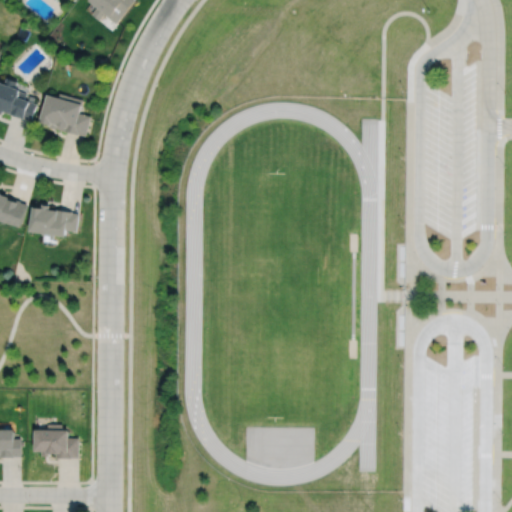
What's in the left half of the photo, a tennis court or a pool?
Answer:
pool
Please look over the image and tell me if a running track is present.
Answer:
Yes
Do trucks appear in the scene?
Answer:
No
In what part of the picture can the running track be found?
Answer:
center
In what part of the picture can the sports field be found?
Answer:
center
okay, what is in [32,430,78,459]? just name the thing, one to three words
house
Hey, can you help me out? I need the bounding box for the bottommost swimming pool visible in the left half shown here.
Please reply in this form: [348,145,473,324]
[14,44,53,84]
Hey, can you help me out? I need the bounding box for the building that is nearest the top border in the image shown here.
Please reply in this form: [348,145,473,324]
[88,0,136,31]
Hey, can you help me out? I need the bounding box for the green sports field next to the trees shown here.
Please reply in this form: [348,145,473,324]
[202,120,360,461]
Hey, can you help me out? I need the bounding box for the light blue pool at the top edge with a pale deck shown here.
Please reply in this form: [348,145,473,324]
[22,0,65,22]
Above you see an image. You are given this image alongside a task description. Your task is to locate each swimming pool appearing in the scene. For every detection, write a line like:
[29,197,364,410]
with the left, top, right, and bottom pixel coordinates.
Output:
[14,44,53,84]
[22,0,65,22]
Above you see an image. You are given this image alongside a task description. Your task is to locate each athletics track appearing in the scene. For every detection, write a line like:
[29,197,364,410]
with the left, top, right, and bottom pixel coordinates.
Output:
[185,102,378,486]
